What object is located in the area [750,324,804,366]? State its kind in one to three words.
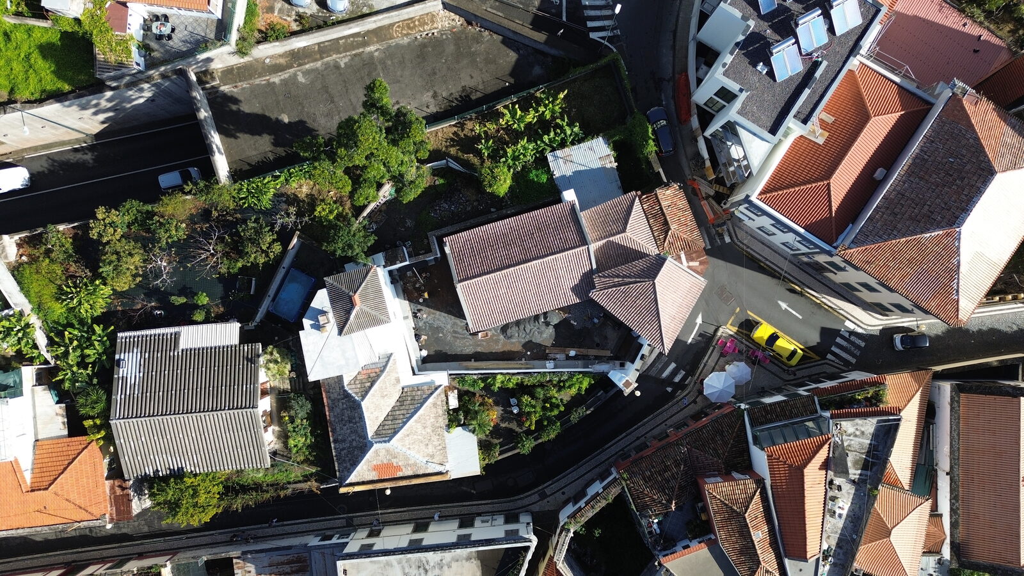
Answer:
car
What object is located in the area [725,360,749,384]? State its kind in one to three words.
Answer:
umbrella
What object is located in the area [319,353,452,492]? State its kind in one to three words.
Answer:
house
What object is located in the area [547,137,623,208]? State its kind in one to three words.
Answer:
shed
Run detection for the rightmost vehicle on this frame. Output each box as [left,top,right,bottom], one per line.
[893,331,930,353]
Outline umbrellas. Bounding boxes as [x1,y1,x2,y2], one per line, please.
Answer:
[725,360,749,384]
[702,370,733,401]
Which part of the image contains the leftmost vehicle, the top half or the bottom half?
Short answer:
top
